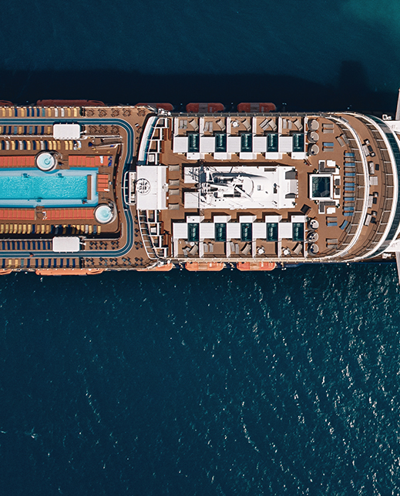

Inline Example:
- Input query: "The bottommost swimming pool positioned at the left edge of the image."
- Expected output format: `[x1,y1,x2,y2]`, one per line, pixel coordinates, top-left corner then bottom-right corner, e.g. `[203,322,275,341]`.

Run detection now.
[0,167,98,207]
